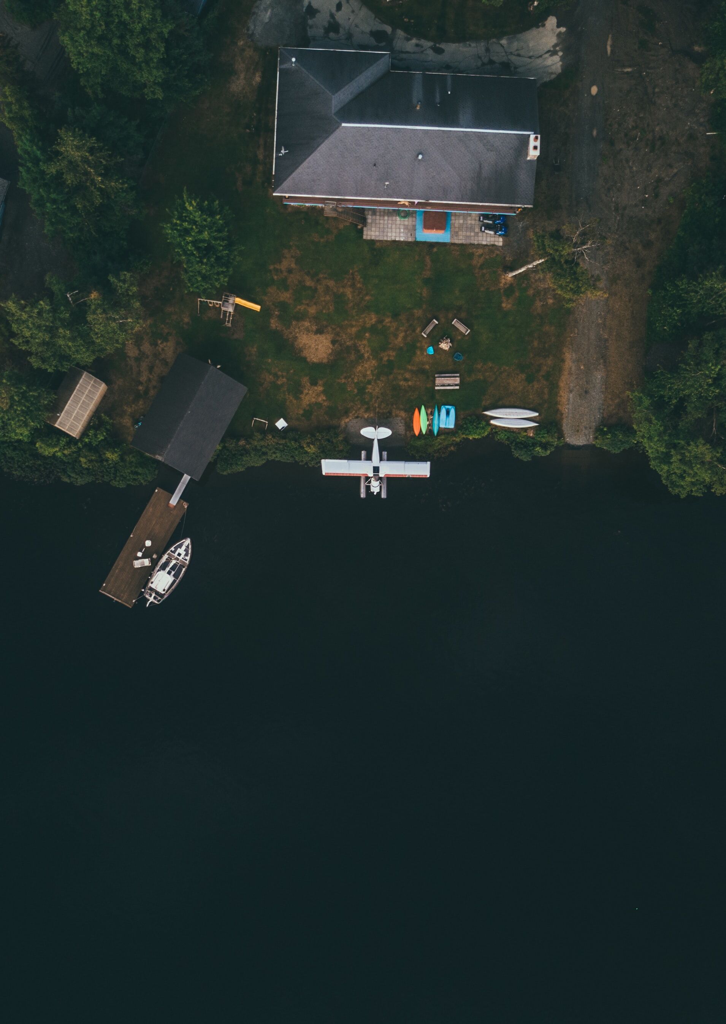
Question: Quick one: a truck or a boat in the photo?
boat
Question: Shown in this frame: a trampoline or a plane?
plane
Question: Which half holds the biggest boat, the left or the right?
left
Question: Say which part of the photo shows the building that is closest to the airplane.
left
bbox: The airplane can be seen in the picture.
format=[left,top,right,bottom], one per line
[321,427,431,499]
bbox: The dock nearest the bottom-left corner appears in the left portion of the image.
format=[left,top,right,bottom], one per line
[99,487,189,608]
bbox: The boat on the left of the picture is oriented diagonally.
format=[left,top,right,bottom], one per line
[144,537,191,607]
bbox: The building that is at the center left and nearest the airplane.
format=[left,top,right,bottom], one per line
[131,353,248,481]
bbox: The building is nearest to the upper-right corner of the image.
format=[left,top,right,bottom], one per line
[272,47,540,228]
